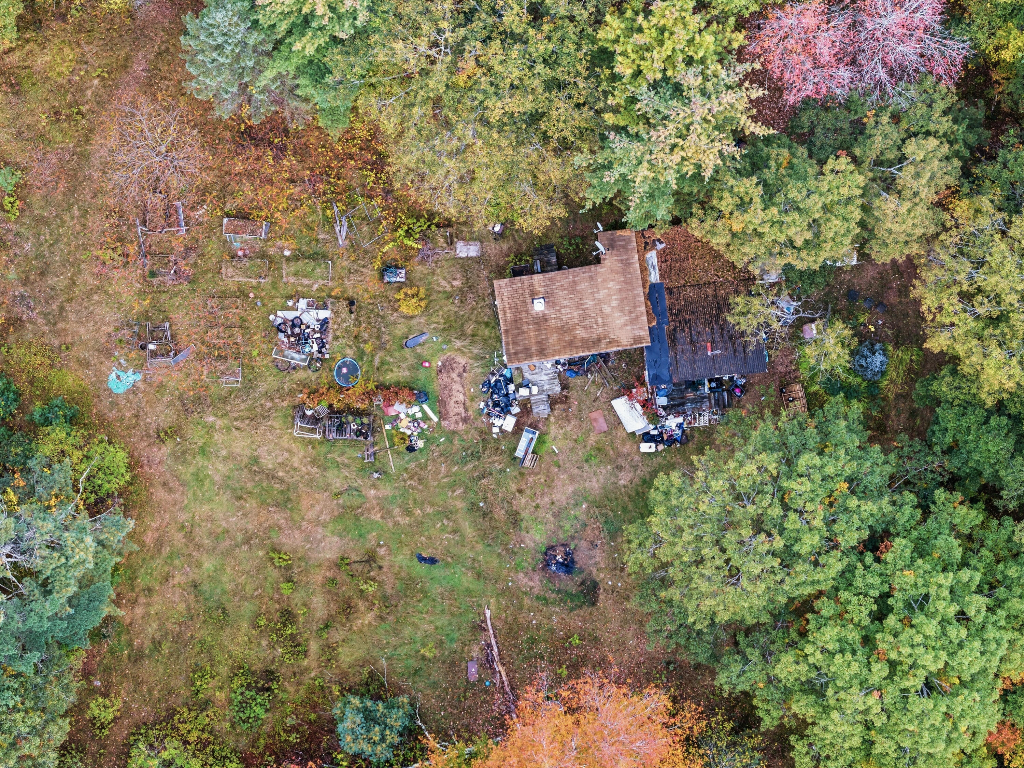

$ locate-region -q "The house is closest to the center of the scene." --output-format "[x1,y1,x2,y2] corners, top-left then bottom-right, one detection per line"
[493,226,652,368]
